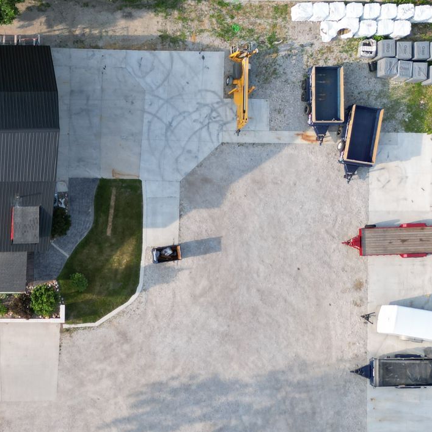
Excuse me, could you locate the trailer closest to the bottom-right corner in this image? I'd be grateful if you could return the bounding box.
[352,354,432,390]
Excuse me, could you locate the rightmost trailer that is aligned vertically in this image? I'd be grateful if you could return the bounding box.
[335,105,382,182]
